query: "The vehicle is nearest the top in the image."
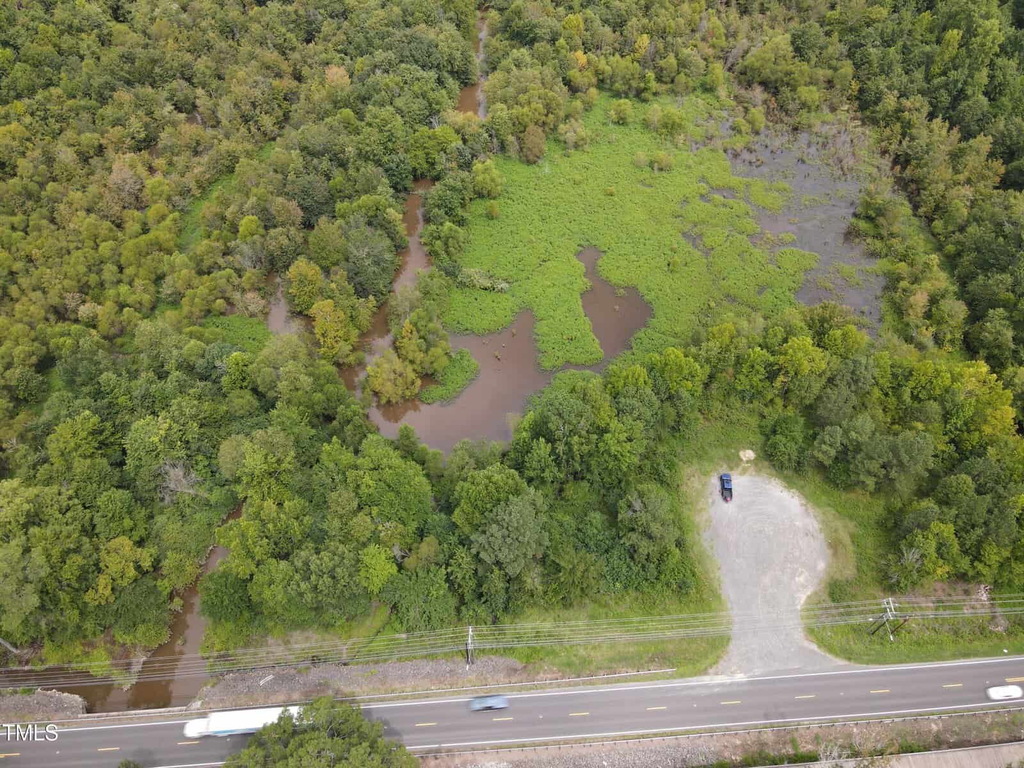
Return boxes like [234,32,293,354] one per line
[720,476,735,503]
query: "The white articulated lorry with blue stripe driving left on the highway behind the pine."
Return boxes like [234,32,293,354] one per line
[181,705,282,737]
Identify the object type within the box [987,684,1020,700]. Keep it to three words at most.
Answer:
car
